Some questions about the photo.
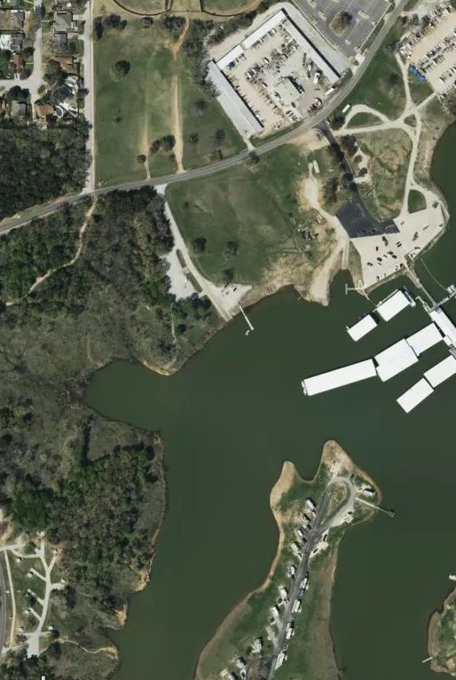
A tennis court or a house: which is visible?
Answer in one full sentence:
The image shows a house.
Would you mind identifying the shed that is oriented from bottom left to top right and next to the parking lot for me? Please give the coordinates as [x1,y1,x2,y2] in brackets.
[242,9,286,49]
